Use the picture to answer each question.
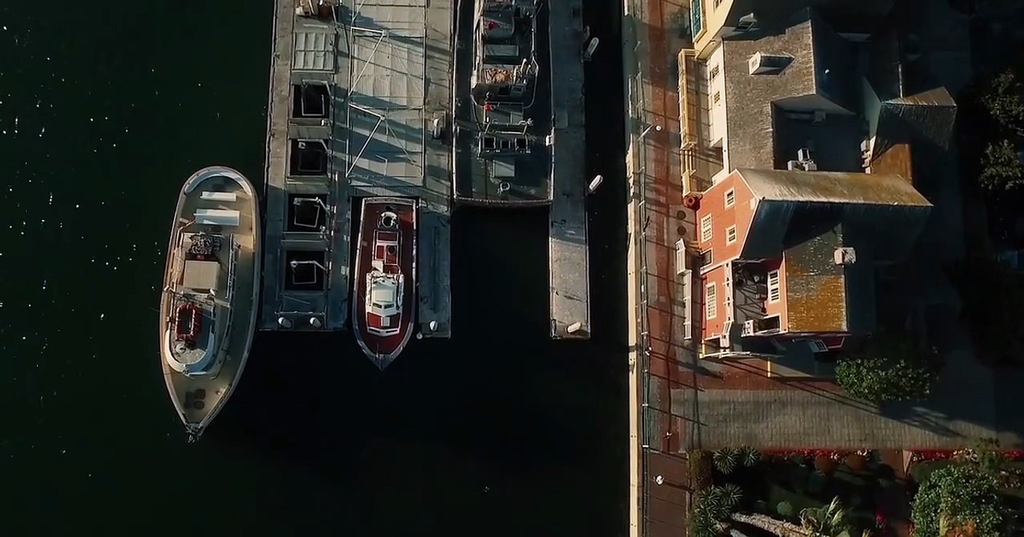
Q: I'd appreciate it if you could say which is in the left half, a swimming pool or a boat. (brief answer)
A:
boat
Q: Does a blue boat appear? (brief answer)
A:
No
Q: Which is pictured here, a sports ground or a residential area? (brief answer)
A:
residential area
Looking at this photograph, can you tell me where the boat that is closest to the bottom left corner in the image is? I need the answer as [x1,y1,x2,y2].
[158,166,266,446]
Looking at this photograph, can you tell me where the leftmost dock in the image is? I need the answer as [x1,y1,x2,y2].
[259,0,351,331]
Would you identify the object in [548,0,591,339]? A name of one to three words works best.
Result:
pier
